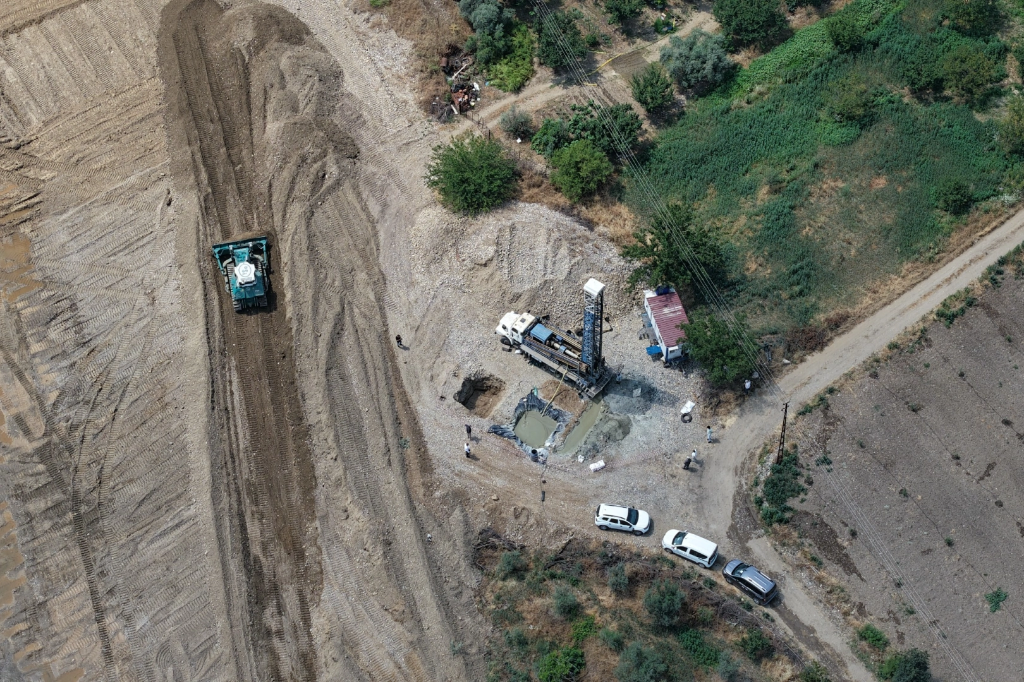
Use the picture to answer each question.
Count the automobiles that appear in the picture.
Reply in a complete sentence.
In total, there are 3 automobiles in the scene.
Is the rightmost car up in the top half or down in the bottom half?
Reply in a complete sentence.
Seen from above, the rightmost car lies in the bottom half of the view.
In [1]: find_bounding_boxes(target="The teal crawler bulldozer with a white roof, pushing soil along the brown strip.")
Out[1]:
[214,235,274,311]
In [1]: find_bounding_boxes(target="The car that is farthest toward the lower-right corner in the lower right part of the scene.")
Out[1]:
[721,560,780,609]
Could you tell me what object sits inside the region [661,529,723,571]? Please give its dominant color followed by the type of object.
white car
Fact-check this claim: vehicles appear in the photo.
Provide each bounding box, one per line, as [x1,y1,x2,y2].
[721,560,780,609]
[661,529,723,571]
[492,280,627,400]
[214,235,274,311]
[594,502,655,538]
